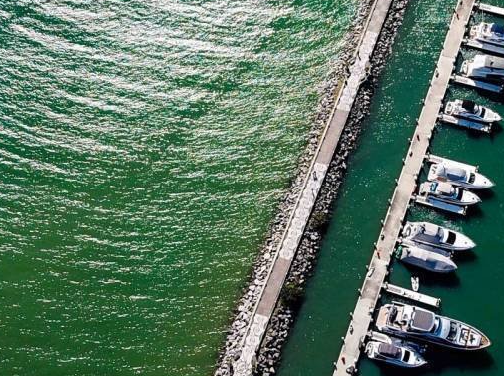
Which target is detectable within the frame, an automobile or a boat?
boat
